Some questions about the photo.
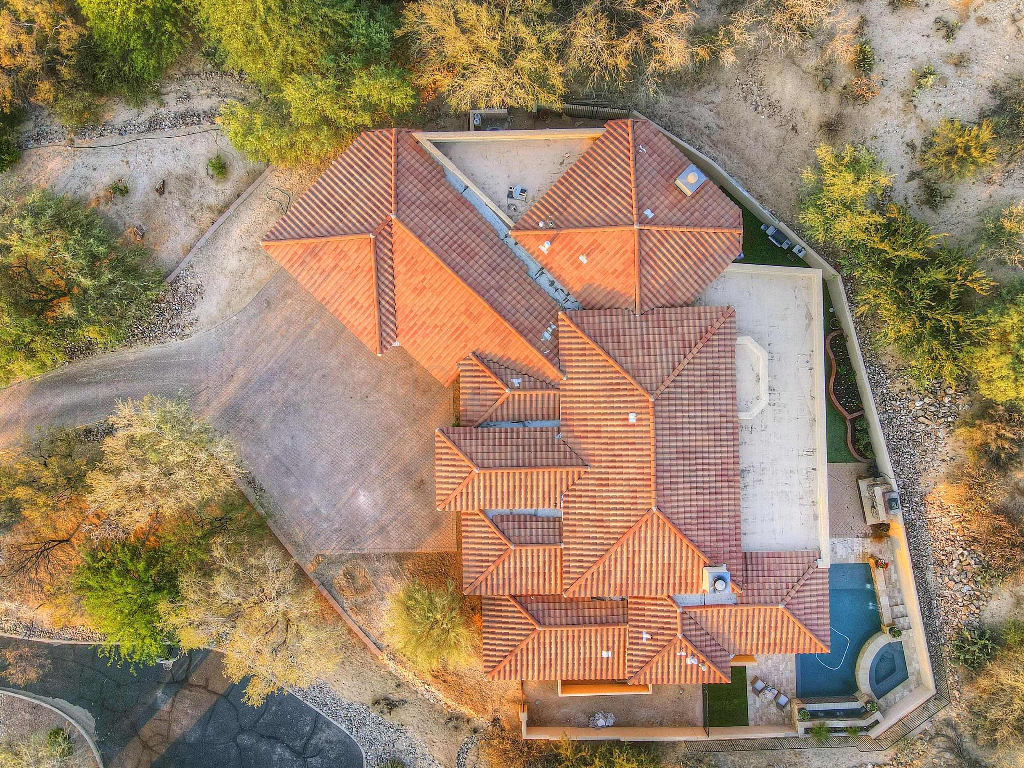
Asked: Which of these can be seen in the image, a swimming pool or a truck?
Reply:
swimming pool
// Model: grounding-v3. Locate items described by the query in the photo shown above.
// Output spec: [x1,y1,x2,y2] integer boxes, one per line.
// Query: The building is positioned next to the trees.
[259,118,832,696]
